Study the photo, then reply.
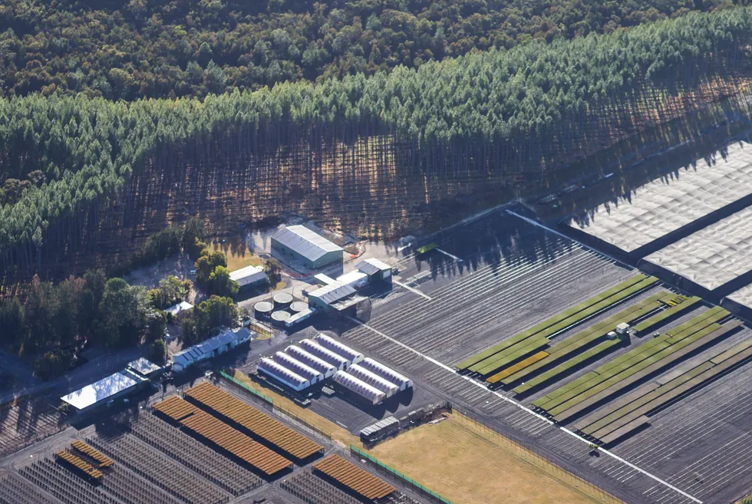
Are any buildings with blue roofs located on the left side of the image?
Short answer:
Yes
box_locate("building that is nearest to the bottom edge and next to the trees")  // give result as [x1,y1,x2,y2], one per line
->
[60,372,137,418]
